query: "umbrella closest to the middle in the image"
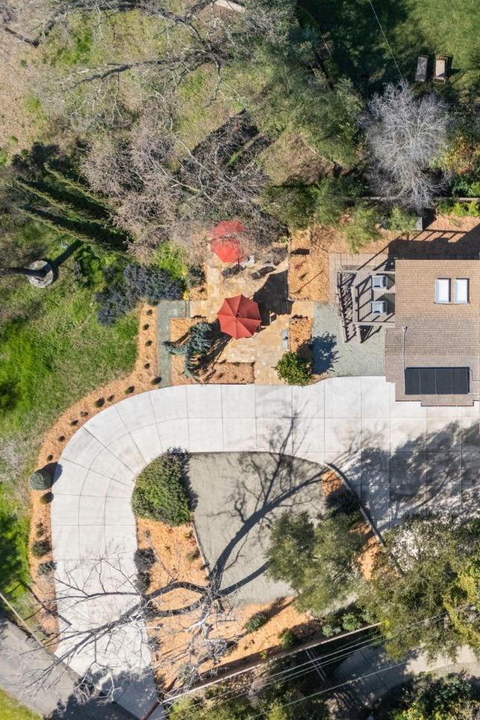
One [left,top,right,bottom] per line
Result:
[216,293,261,340]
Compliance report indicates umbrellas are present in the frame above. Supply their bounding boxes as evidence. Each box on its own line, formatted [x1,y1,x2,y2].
[208,222,245,261]
[216,293,261,340]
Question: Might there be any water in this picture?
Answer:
No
